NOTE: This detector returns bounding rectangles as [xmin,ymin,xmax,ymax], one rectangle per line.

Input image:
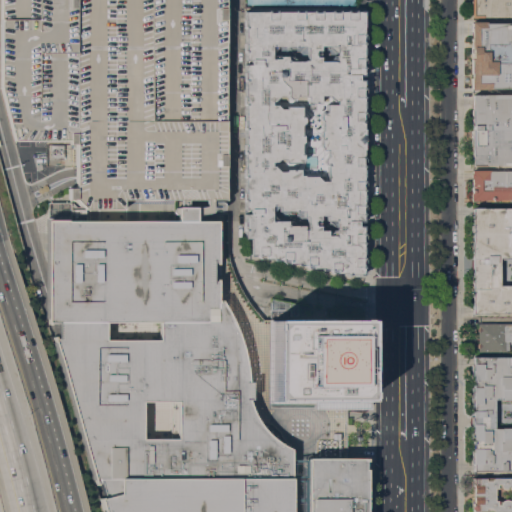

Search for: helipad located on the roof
[323,336,374,388]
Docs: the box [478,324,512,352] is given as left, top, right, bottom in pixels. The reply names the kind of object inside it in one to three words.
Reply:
building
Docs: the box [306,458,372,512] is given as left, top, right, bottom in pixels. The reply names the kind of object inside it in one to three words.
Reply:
building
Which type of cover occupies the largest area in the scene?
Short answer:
buildings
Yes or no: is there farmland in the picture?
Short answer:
No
